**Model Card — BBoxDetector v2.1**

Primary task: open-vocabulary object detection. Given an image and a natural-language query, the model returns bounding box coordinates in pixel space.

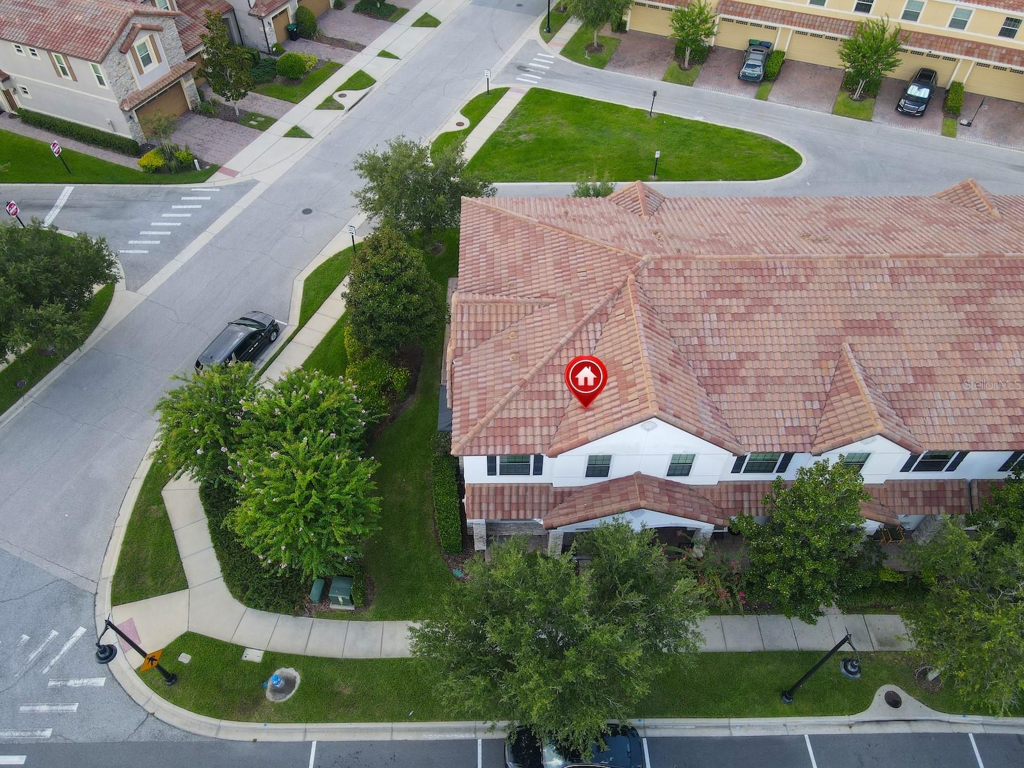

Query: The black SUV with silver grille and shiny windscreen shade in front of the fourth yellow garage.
[903,69,936,115]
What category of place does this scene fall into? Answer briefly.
residential area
